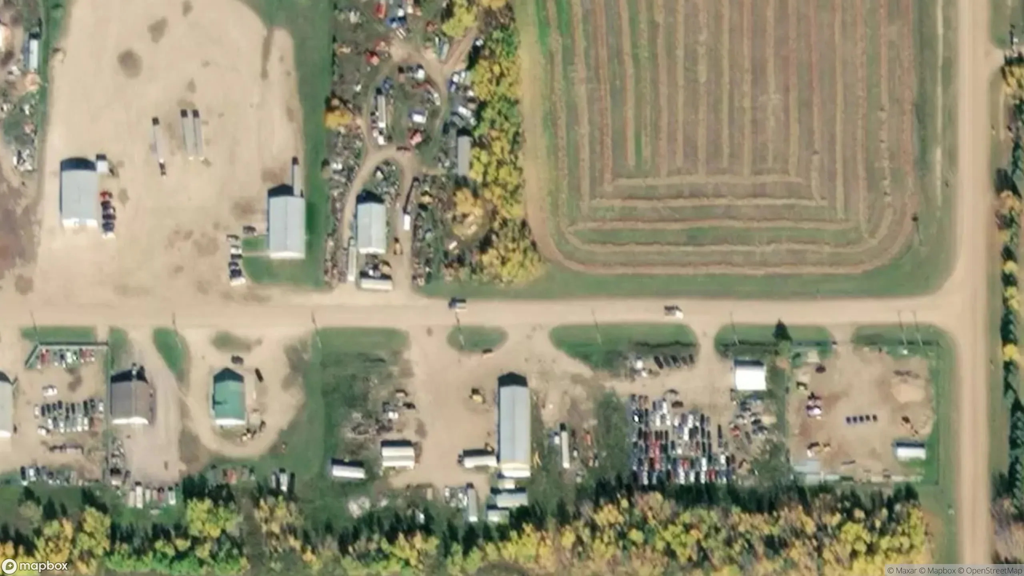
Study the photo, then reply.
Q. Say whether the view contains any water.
No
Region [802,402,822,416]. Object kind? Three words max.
work vehicle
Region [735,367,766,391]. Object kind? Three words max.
shed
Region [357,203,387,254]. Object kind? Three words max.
building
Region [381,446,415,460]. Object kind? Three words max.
shed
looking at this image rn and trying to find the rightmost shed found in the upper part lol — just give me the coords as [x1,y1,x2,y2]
[458,136,471,178]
